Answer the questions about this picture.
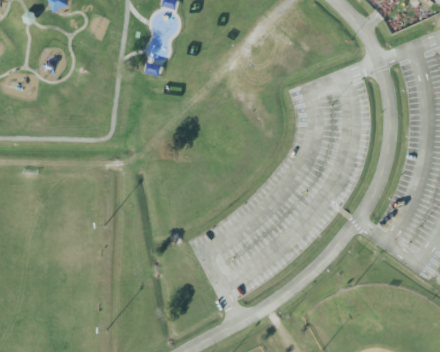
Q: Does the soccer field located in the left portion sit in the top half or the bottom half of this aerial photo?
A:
bottom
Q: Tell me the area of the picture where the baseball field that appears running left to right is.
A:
bottom right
